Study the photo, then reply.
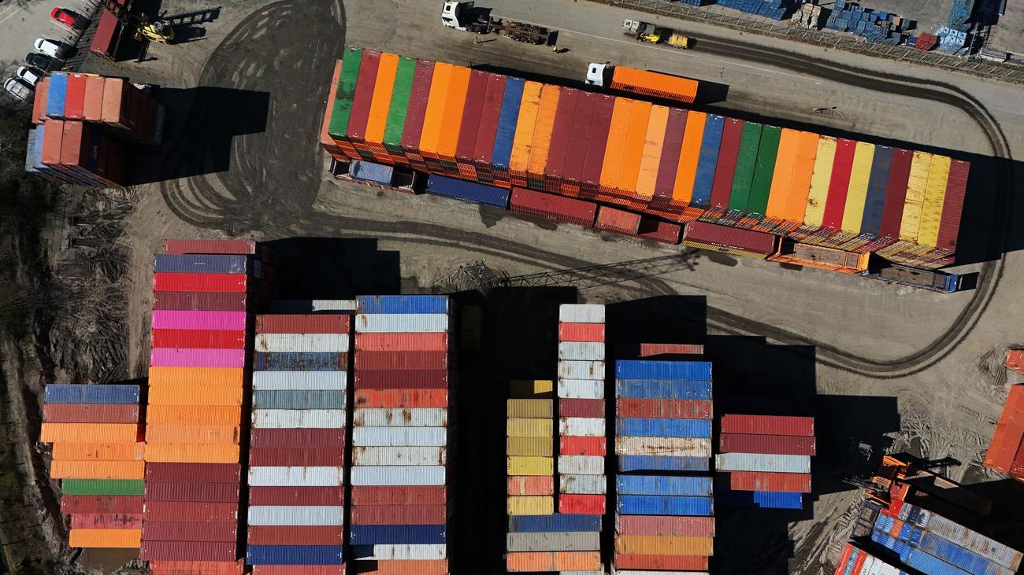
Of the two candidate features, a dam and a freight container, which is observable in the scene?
freight container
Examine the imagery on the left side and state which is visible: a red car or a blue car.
red car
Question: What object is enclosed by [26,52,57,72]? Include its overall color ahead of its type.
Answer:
black car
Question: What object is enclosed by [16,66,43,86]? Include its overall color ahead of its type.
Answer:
white car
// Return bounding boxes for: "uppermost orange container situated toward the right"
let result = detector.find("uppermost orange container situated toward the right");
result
[613,58,699,95]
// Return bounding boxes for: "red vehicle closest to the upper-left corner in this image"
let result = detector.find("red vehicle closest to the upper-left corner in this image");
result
[51,8,82,29]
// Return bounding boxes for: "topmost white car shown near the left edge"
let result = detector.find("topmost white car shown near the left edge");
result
[36,38,66,60]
